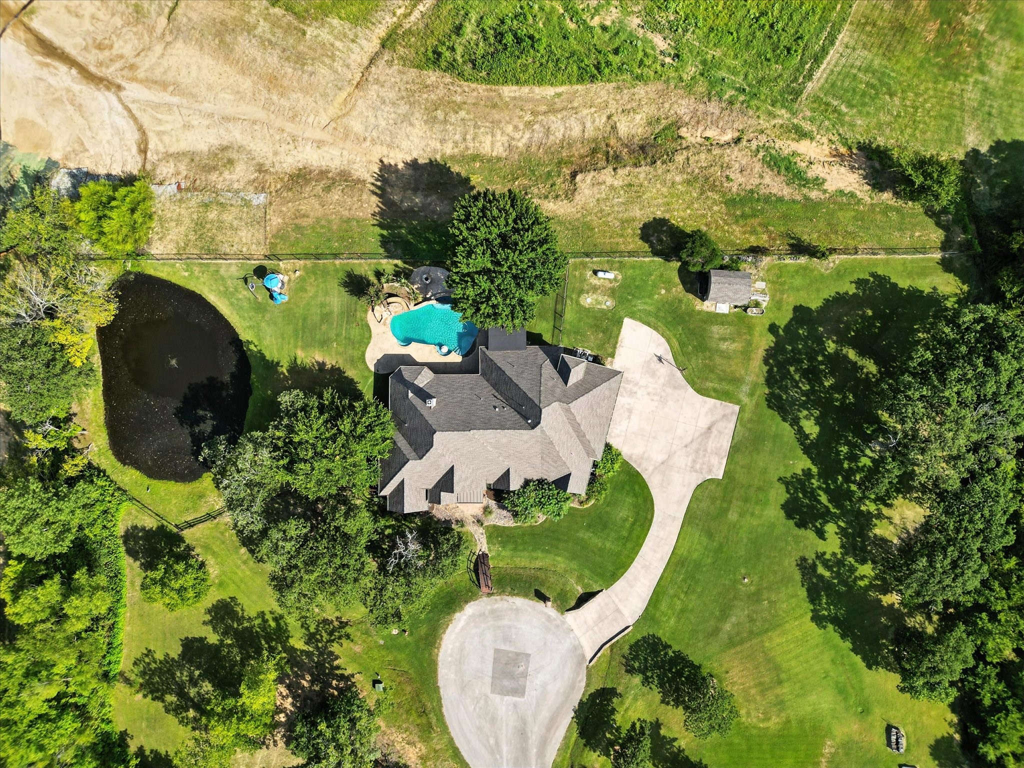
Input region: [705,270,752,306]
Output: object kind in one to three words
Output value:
shed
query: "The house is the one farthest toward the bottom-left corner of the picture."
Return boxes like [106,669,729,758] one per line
[378,327,624,513]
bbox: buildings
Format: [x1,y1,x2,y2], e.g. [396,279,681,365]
[705,270,752,306]
[378,327,624,513]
